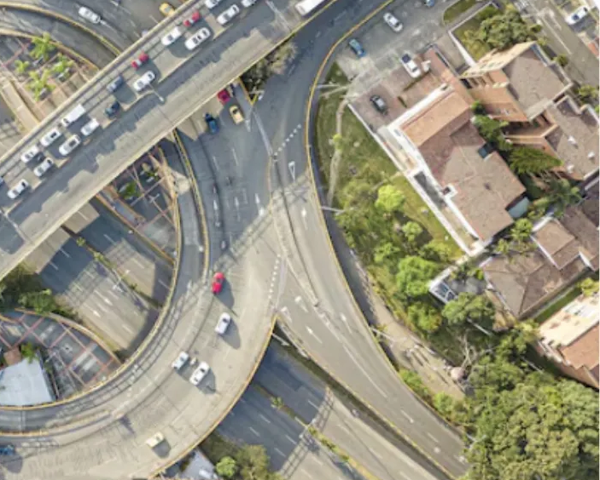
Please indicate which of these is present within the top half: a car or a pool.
car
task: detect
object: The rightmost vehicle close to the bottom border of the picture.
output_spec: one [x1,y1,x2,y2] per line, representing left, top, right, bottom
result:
[195,466,217,480]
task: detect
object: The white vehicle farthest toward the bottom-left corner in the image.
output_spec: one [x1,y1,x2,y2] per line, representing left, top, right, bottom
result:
[146,433,165,448]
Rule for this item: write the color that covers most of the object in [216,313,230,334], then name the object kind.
white vehicle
